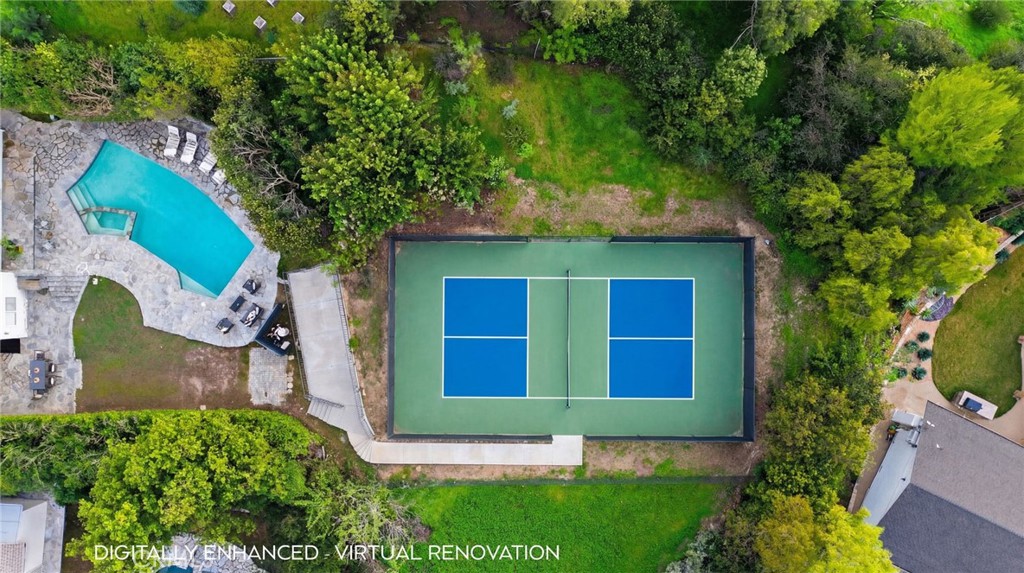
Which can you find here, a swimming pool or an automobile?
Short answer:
swimming pool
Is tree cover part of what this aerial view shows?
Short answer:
Yes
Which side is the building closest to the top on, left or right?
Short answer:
left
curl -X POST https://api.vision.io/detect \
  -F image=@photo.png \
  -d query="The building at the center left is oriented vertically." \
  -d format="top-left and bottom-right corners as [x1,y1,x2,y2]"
[0,273,29,338]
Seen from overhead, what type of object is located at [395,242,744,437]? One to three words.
sports court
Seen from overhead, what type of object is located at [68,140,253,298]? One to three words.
swimming pool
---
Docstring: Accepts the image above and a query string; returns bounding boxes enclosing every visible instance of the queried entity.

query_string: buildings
[0,273,29,338]
[0,501,49,573]
[863,400,1024,573]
